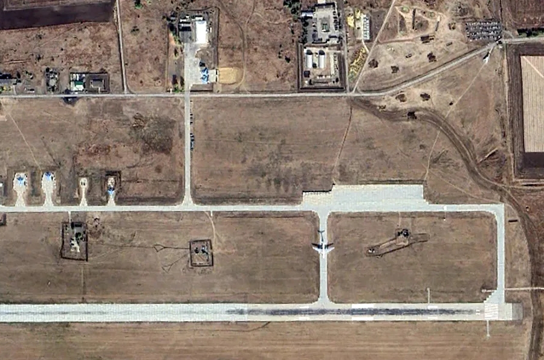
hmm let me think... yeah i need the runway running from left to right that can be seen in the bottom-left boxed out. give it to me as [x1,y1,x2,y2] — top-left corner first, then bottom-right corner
[0,303,247,322]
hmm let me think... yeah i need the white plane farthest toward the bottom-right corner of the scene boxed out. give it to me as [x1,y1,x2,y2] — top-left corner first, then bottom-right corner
[313,240,334,258]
